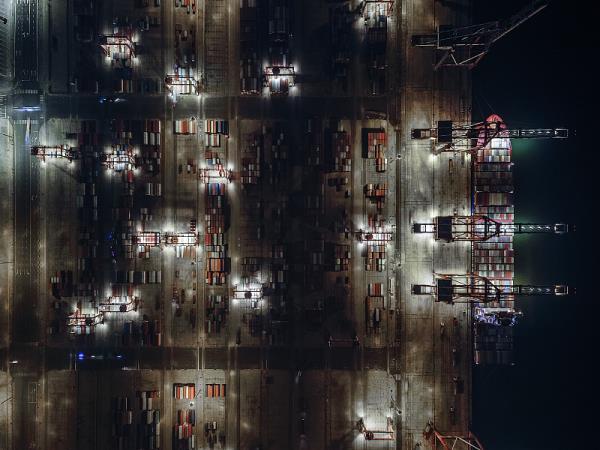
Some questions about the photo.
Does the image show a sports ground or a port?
port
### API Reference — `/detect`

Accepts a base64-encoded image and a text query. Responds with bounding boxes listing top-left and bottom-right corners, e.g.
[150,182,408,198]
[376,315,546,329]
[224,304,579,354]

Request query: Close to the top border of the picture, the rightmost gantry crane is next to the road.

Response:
[411,0,554,76]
